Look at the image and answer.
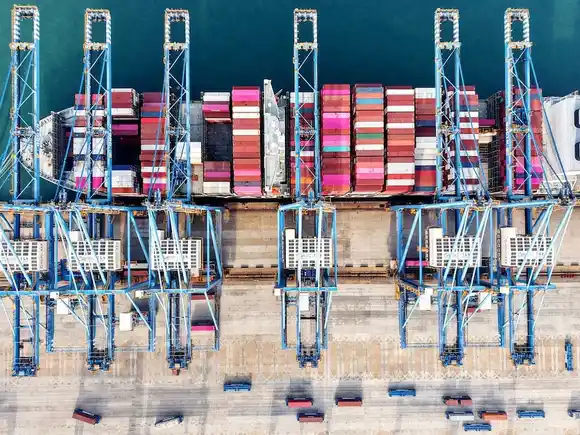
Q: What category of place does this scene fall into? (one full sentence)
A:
What you see here is a port.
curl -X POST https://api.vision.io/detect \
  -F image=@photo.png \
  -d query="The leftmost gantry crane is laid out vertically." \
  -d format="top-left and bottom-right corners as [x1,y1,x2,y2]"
[0,7,97,371]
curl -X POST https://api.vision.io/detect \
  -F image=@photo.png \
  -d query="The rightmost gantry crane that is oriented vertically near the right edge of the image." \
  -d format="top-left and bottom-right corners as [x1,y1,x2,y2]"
[446,7,574,371]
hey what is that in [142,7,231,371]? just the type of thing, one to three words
container crane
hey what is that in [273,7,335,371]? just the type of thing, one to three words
container crane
